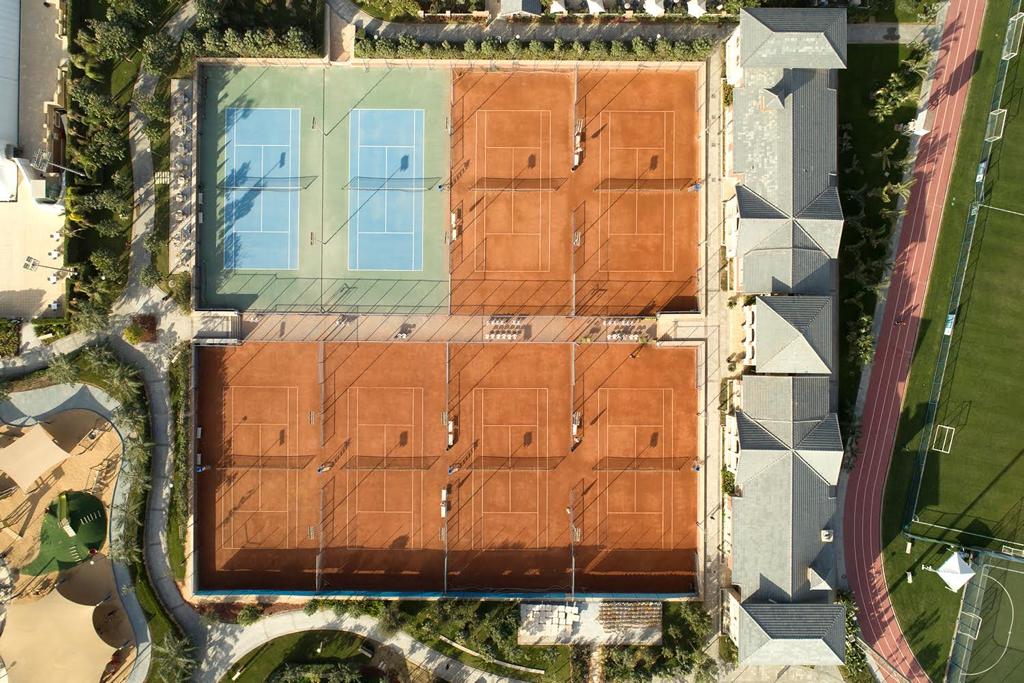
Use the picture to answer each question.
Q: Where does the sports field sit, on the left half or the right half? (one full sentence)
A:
You can find the sports field on the right side of the picture.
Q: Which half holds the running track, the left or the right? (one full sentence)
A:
The running track appears in the right half of the scene.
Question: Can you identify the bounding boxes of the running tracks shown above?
[842,0,989,683]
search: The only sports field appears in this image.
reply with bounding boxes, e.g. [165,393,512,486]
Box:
[899,0,1024,566]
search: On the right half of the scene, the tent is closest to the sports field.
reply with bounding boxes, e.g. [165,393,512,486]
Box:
[926,550,978,598]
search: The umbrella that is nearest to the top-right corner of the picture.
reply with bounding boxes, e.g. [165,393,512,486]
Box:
[683,0,710,21]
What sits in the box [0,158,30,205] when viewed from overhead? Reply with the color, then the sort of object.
white tent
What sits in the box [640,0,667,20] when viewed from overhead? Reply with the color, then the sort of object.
white umbrella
